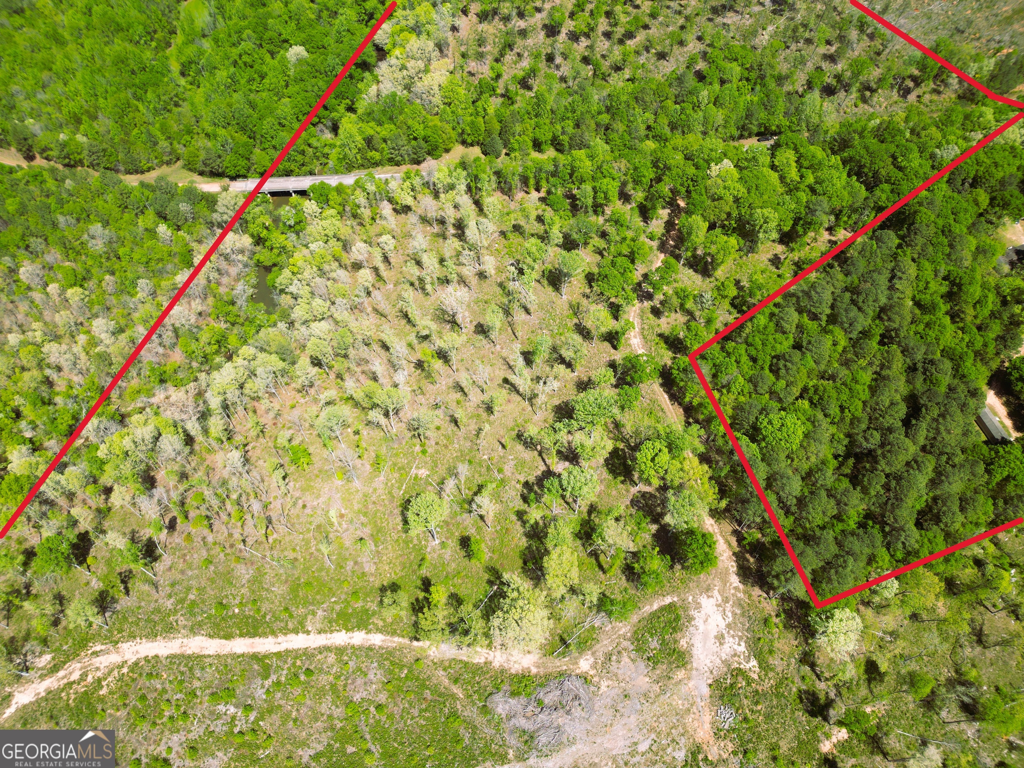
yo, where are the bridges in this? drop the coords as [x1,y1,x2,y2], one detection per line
[229,170,352,200]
